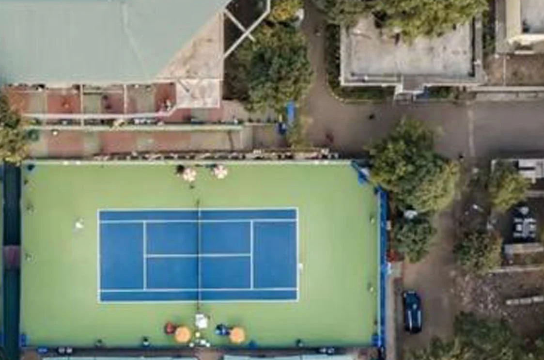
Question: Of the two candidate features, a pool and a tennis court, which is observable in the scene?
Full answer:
Of the two, only a tennis court appears.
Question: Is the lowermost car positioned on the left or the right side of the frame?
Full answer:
The lowermost car is on the right side of the image.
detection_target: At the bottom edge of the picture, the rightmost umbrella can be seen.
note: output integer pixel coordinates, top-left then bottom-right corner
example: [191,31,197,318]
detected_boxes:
[231,328,245,342]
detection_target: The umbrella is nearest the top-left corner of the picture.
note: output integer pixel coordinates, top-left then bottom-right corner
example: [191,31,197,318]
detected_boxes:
[182,167,196,180]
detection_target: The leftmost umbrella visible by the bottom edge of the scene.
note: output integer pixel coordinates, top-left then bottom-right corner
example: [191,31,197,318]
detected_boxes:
[175,328,190,342]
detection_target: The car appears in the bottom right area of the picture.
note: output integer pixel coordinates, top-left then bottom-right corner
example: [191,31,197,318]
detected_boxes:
[402,291,423,332]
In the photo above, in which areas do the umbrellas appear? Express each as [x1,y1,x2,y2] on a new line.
[231,328,245,342]
[175,328,190,342]
[182,167,196,180]
[214,166,227,178]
